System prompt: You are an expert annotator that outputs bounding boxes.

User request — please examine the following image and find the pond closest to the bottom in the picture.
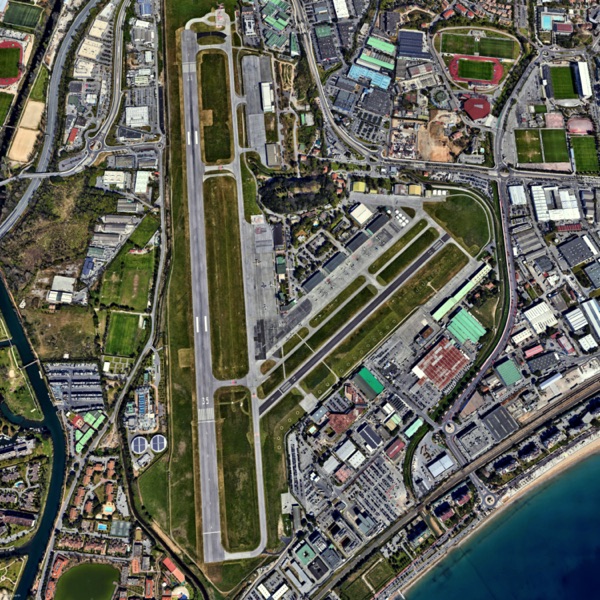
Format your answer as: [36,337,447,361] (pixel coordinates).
[56,562,120,600]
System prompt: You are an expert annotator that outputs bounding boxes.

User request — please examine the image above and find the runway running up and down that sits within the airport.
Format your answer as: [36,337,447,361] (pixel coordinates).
[181,30,220,562]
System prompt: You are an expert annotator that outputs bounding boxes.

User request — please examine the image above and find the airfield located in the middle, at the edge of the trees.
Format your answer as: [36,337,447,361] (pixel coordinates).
[140,0,494,593]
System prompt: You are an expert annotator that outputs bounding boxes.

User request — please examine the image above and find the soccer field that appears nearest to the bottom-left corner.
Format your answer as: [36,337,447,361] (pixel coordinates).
[106,312,139,356]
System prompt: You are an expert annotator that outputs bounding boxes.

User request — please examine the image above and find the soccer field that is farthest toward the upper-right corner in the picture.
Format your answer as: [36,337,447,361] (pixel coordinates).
[550,66,578,99]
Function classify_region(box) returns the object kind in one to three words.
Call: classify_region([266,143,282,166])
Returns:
hangar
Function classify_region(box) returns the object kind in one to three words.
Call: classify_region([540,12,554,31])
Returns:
swimming pool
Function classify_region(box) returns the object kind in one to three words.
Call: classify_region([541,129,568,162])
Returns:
soccer field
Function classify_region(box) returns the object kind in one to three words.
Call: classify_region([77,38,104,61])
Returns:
building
